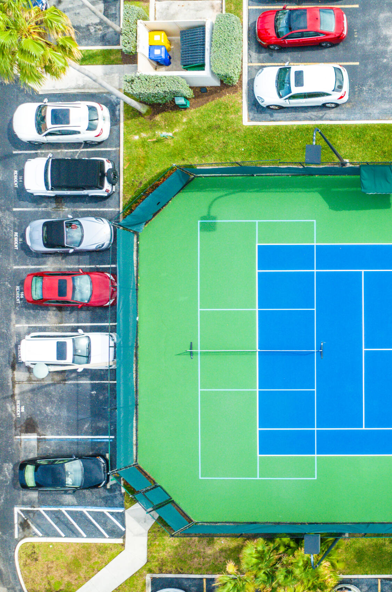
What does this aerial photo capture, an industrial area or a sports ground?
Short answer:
sports ground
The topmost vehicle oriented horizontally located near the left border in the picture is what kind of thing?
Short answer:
automobile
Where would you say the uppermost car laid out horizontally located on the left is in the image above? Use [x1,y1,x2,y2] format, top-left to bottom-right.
[12,97,113,145]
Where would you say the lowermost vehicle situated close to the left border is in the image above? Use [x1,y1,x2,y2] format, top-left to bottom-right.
[15,451,113,495]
